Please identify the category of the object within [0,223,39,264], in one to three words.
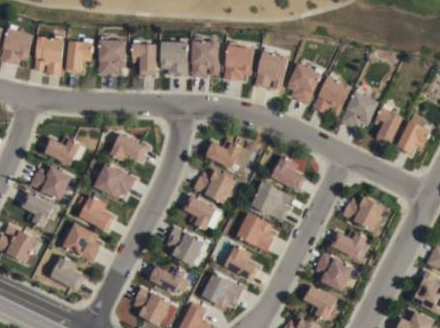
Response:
house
